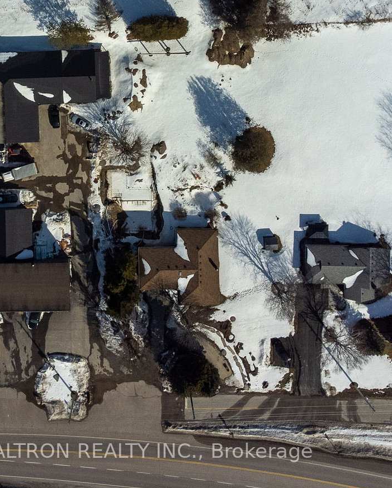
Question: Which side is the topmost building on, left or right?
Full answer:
The topmost building appears in the left half of the scene.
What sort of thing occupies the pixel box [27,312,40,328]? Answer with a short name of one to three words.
vehicle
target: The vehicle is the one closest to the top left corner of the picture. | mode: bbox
[48,104,62,128]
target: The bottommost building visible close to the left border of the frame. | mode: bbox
[0,258,70,312]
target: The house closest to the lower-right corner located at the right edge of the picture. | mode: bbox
[303,243,391,302]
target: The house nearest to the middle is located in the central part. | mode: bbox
[137,228,220,305]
